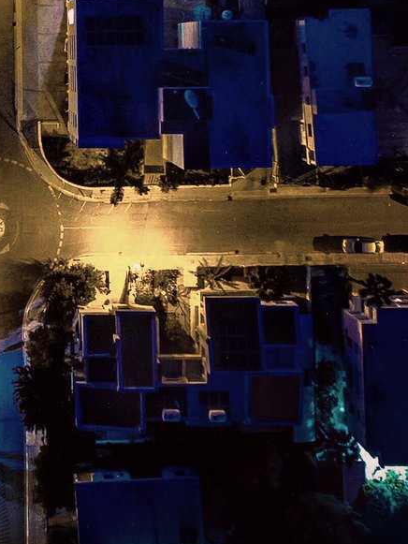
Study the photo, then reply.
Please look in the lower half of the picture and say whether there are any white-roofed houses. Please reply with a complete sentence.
No, looking in the lower half of the picture, there is no white-roofed house.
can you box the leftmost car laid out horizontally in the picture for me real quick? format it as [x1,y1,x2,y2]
[341,237,384,256]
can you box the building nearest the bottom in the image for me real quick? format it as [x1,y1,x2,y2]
[71,455,201,544]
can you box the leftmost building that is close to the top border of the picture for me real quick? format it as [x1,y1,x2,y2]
[70,0,273,169]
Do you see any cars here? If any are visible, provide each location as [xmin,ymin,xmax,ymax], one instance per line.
[385,236,408,254]
[341,237,384,256]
